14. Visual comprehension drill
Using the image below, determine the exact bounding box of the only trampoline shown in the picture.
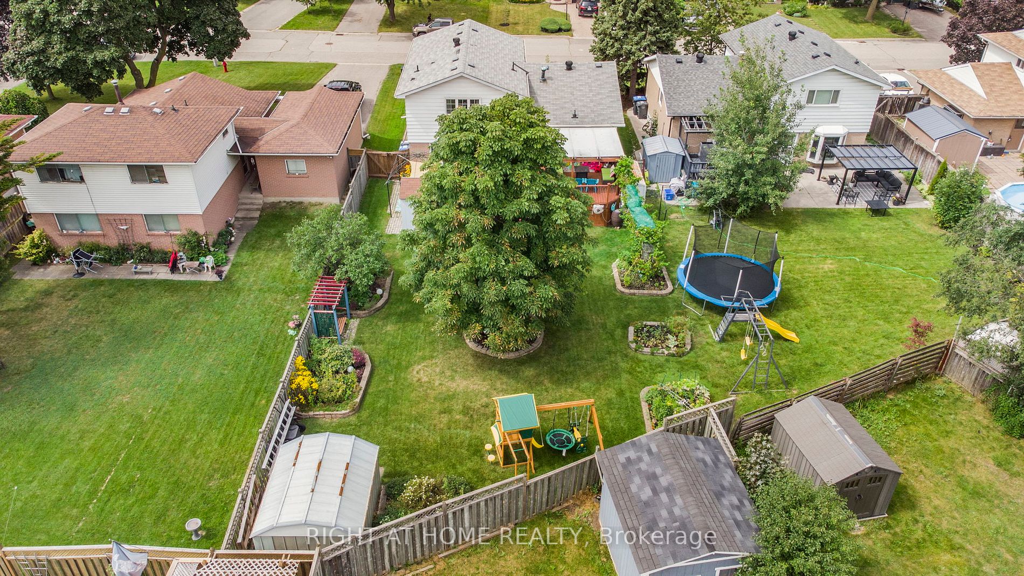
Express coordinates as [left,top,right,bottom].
[677,217,784,320]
